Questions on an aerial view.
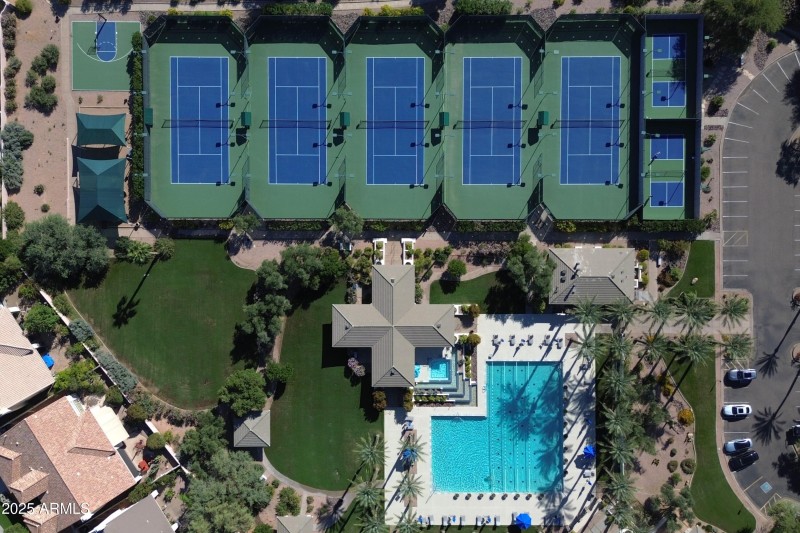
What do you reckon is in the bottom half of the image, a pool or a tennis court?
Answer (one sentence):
The feature located in the bottom half of the image is a pool.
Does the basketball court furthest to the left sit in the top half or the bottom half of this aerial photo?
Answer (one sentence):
The top half of the photo is where the basketball court furthest to the left is.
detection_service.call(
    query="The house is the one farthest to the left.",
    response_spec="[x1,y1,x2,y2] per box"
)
[0,305,59,416]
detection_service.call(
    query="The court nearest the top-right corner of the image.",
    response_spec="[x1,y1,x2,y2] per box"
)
[648,21,697,115]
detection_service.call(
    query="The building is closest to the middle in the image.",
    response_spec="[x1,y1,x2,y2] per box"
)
[332,263,455,388]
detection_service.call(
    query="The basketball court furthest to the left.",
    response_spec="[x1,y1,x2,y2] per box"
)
[70,20,141,91]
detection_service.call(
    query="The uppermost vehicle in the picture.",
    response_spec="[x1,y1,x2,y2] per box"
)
[727,368,757,381]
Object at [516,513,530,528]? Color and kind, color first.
blue umbrella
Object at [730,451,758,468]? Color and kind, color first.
black car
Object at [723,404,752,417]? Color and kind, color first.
white vehicle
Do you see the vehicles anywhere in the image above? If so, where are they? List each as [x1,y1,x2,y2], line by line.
[723,404,752,417]
[727,368,757,381]
[788,425,800,436]
[724,438,752,453]
[730,451,758,468]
